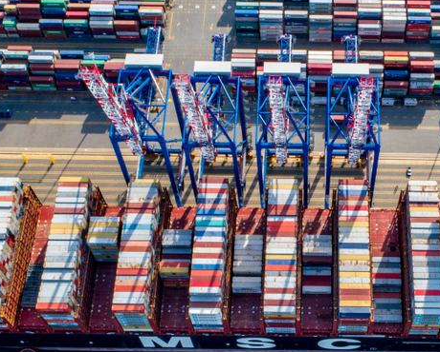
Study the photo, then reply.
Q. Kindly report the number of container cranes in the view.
4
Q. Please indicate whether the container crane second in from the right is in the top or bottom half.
top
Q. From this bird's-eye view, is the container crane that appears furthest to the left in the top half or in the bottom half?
top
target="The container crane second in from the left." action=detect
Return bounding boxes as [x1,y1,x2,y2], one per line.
[172,35,252,208]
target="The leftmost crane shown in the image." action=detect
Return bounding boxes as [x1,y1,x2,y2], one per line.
[79,34,189,207]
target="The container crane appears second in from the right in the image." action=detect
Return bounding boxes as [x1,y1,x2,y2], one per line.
[255,36,312,209]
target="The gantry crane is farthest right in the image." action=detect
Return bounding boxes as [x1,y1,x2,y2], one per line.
[322,37,380,209]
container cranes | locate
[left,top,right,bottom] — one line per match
[79,34,189,207]
[255,36,312,209]
[322,37,380,209]
[172,35,252,208]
